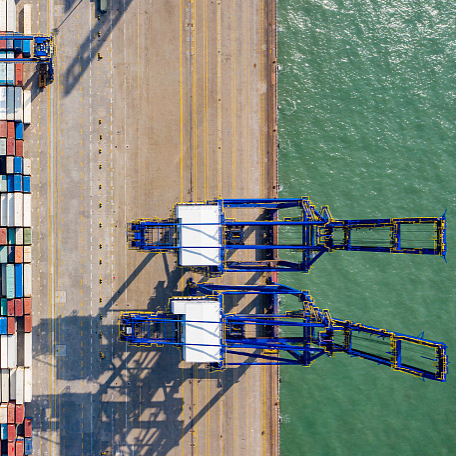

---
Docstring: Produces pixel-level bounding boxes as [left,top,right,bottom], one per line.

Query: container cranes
[112,271,453,389]
[123,194,453,280]
[0,34,56,87]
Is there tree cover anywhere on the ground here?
No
